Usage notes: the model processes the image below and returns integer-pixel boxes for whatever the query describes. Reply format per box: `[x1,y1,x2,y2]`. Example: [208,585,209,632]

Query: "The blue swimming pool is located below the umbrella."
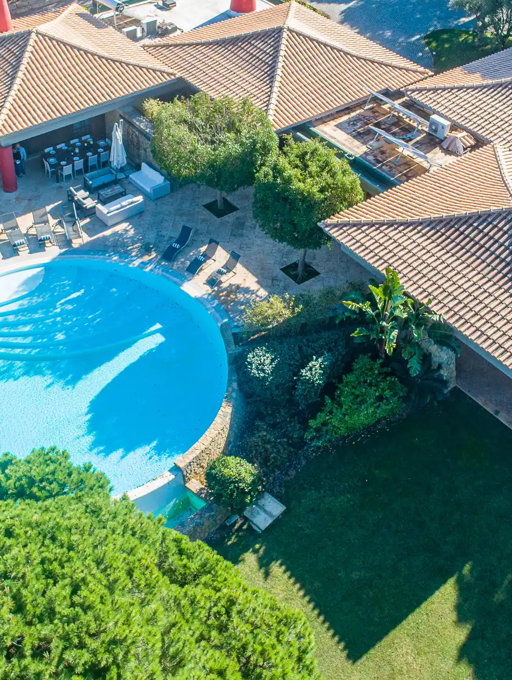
[0,253,240,578]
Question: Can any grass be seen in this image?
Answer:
Yes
